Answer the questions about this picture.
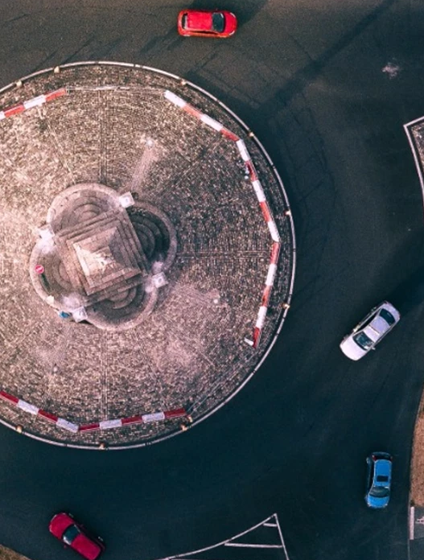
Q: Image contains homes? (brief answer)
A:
No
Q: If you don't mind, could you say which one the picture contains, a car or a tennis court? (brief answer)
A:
car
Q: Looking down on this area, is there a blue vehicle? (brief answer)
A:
Yes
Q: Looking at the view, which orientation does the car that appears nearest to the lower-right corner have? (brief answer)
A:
from top to bottom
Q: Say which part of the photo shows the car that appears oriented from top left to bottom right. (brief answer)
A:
bottom left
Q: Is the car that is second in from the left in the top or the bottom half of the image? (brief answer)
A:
top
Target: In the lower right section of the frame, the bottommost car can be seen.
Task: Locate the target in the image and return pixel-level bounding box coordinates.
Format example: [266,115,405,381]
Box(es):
[365,452,393,507]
